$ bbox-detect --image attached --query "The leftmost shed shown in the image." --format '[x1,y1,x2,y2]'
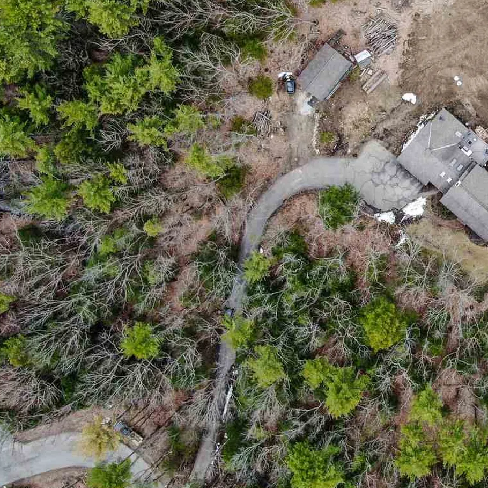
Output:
[298,43,353,100]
